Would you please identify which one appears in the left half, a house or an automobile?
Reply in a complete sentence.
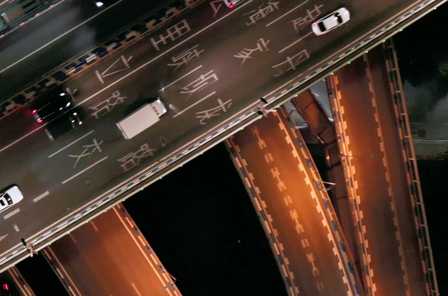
What appears in the left half is an automobile.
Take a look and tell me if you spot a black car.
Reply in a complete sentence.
Yes, there's a black car here.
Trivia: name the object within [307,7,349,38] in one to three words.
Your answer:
car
